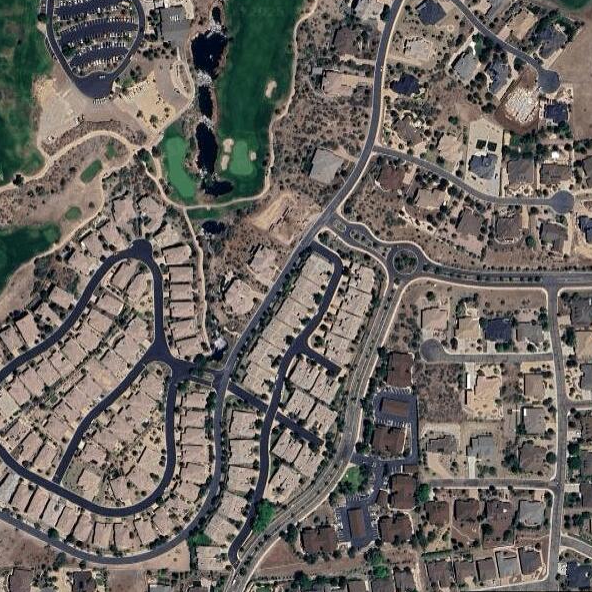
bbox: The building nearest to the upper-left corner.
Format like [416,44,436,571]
[158,7,190,46]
